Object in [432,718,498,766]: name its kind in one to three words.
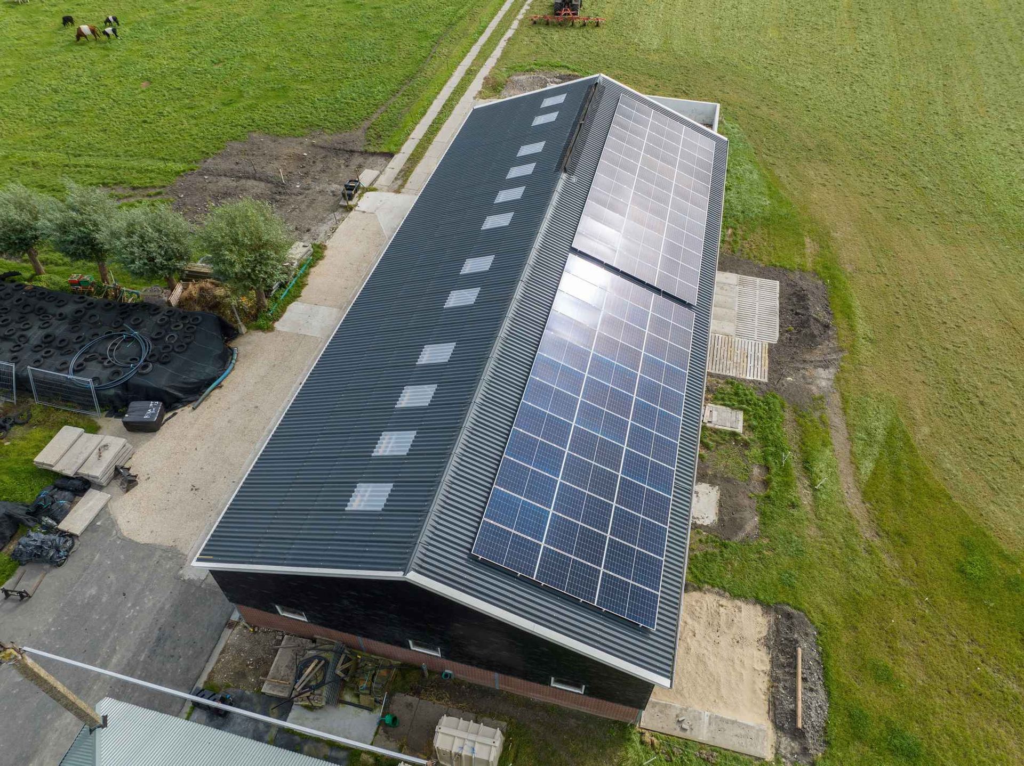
storage tank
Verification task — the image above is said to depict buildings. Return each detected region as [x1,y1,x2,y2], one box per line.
[58,696,338,766]
[186,72,731,725]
